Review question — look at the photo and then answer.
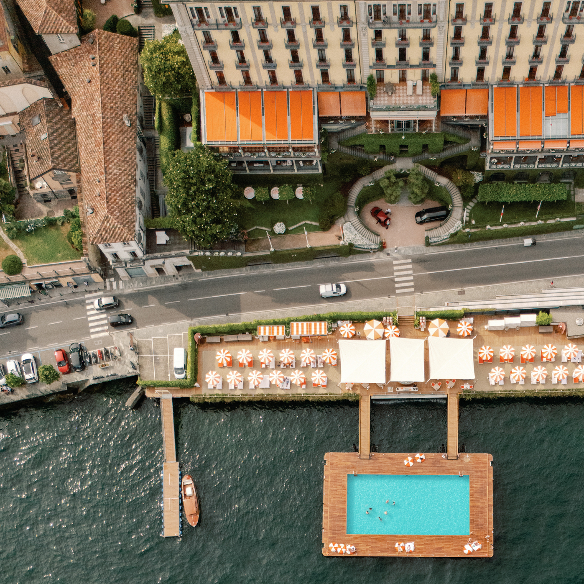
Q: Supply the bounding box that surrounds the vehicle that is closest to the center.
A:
[319,282,346,299]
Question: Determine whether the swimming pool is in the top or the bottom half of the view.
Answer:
bottom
